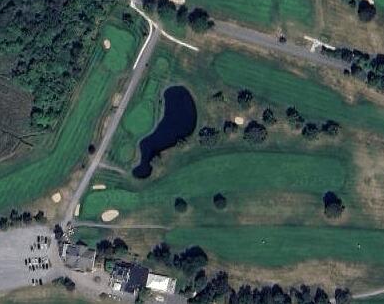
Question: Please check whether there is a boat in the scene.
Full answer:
No, there appears to be no boat in this shot.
